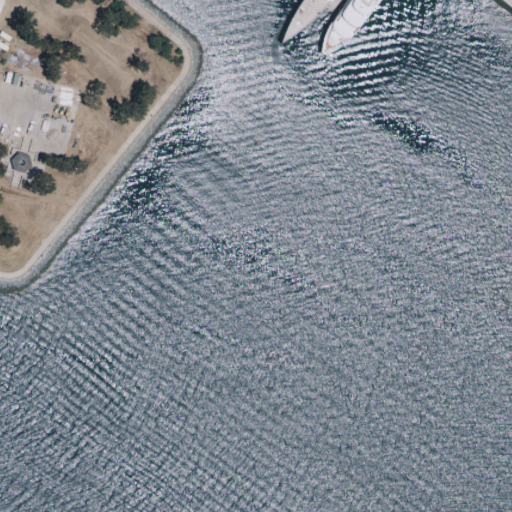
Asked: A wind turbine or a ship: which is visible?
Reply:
ship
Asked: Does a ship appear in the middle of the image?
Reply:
No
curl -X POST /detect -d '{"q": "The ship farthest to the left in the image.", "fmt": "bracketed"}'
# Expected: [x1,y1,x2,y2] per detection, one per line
[282,0,336,42]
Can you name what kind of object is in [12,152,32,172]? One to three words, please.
building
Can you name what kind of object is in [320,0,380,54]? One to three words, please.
ship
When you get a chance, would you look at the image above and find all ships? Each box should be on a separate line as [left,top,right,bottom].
[282,0,336,42]
[320,0,380,54]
